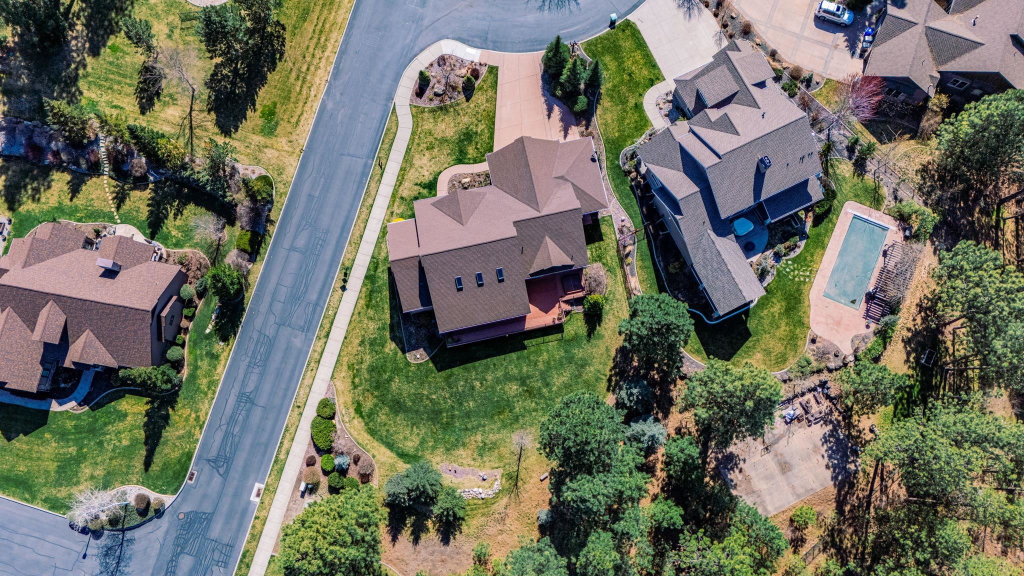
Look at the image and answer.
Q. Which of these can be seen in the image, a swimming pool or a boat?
swimming pool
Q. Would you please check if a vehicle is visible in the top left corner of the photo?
No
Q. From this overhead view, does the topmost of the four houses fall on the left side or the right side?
right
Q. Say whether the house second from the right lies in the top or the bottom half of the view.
top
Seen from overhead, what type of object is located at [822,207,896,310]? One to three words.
swimming pool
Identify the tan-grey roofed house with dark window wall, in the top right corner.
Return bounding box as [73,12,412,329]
[860,0,1024,113]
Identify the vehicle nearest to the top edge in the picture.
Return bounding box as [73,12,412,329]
[817,2,855,26]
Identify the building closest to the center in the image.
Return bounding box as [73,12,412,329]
[387,135,609,347]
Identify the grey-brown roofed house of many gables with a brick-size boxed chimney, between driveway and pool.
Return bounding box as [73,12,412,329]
[635,39,824,316]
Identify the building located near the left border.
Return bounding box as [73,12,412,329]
[0,223,189,393]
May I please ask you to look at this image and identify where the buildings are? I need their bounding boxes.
[387,135,609,347]
[635,39,824,316]
[0,223,189,393]
[860,0,1024,113]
